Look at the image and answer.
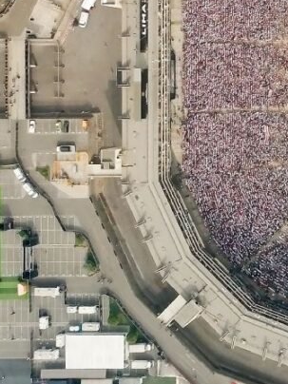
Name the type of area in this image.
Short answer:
sports ground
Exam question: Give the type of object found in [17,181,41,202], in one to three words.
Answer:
truck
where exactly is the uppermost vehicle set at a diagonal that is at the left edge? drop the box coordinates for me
[7,164,30,184]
